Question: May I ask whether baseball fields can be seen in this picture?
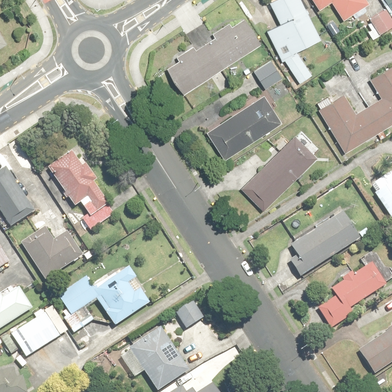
No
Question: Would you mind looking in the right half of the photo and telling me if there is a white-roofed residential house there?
Yes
